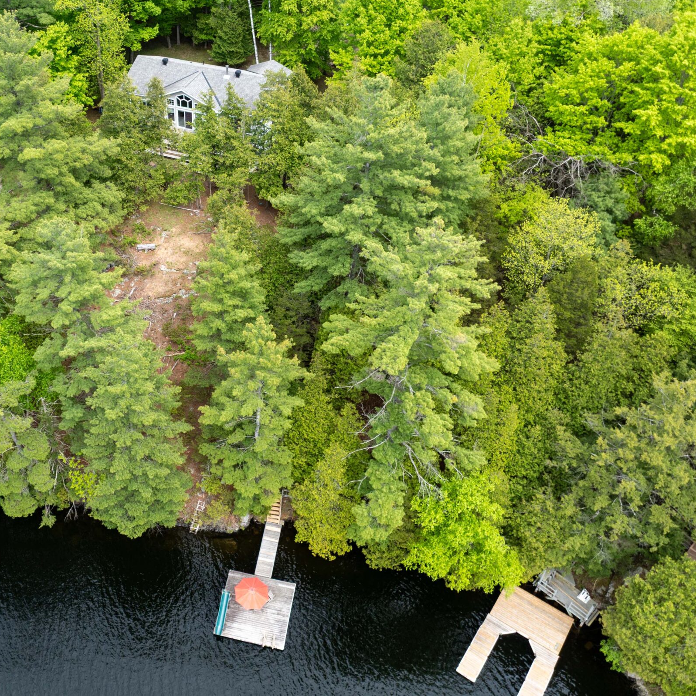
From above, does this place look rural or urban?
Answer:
rural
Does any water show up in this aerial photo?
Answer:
Yes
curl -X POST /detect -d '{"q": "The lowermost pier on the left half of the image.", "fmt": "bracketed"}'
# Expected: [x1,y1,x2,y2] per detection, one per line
[215,570,295,654]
